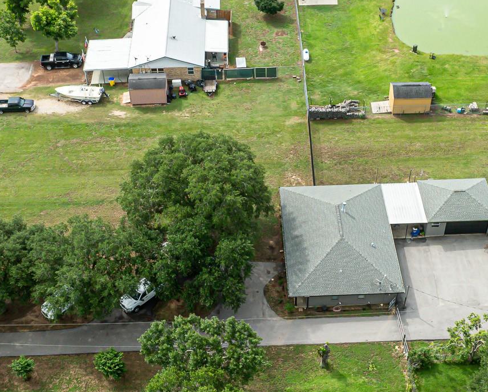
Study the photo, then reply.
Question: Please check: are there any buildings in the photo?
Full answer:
Yes, you can see a building in this photo.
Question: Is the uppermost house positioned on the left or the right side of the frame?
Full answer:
It is on the left.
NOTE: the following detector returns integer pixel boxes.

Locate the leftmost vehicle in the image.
[0,99,36,119]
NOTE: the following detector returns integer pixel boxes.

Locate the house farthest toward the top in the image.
[84,0,233,85]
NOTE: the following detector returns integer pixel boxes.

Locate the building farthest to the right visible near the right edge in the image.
[416,178,488,236]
